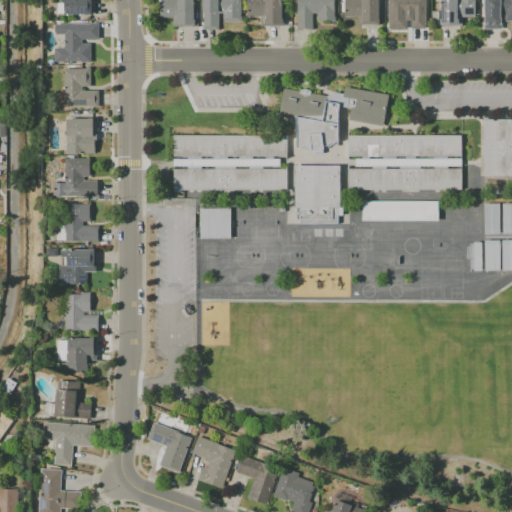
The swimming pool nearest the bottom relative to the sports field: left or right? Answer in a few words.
to its left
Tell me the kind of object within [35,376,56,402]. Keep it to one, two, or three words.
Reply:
swimming pool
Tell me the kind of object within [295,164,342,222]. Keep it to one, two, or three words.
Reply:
building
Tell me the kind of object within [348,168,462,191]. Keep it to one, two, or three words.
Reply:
building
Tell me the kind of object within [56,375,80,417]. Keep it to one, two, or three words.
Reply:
house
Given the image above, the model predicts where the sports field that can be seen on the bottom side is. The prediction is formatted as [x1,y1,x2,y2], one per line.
[201,286,512,470]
